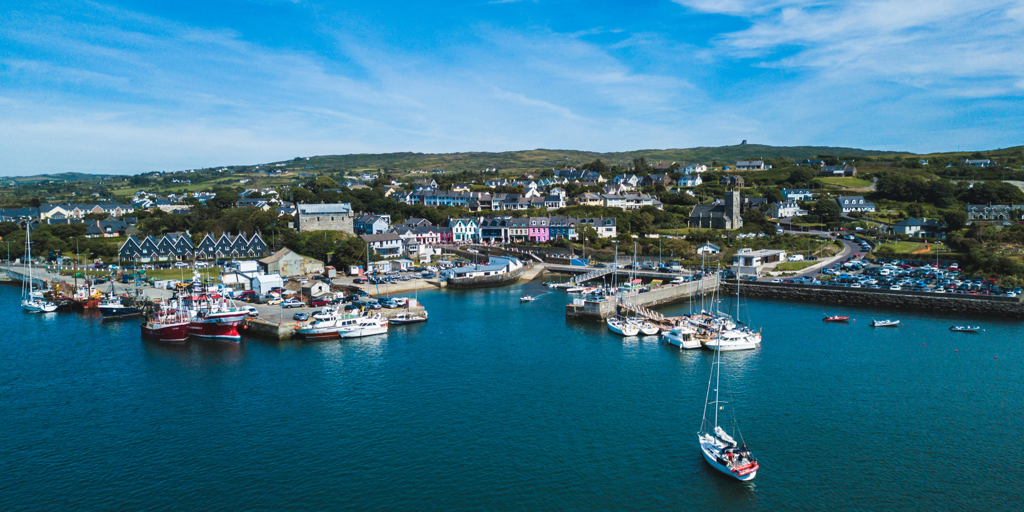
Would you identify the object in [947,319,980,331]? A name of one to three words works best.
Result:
boat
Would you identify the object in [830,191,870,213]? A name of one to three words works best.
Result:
house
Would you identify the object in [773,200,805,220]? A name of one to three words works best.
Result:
house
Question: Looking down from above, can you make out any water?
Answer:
Yes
